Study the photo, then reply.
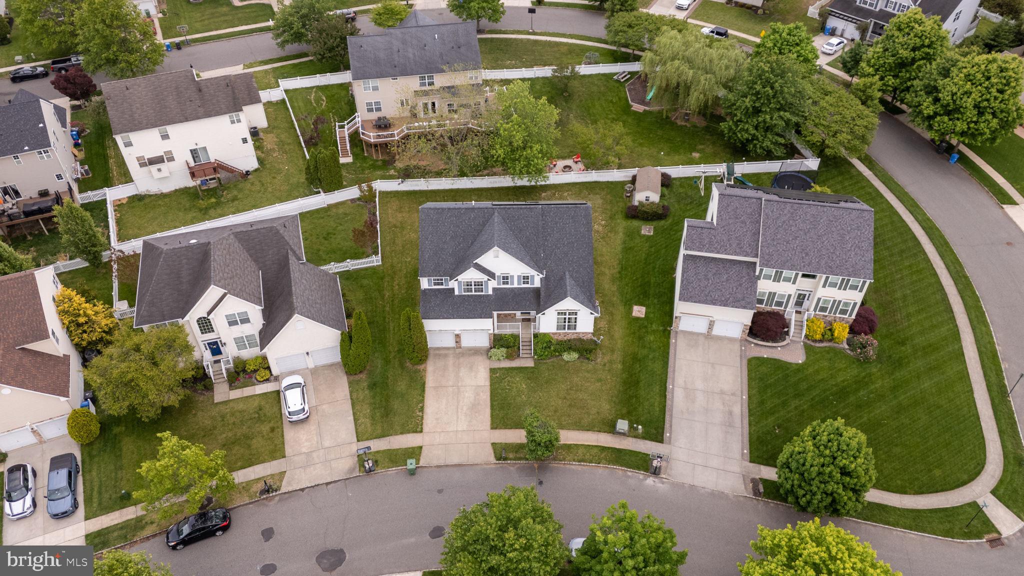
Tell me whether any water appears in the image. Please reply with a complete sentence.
No, water can't be seen anywhere here.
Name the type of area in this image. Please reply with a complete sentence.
The area seen from above is a residential area.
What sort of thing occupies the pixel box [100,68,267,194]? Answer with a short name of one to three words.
house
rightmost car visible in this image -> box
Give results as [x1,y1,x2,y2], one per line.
[824,37,848,53]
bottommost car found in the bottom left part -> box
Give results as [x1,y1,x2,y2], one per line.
[163,508,232,549]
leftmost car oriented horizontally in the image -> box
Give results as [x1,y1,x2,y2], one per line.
[9,66,47,80]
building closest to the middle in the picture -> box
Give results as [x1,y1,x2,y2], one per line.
[418,200,603,357]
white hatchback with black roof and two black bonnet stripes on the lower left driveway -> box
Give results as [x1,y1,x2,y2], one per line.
[0,463,34,519]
